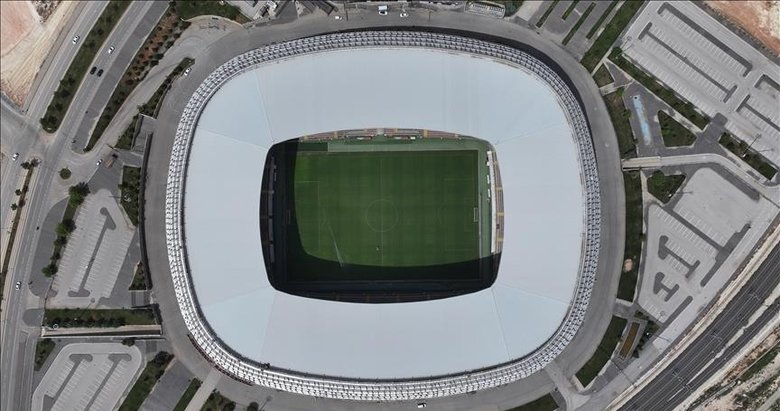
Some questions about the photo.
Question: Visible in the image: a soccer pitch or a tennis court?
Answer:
soccer pitch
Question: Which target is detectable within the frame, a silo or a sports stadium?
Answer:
sports stadium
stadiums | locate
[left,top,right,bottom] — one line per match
[167,31,599,401]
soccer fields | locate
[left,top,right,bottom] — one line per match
[265,133,498,297]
